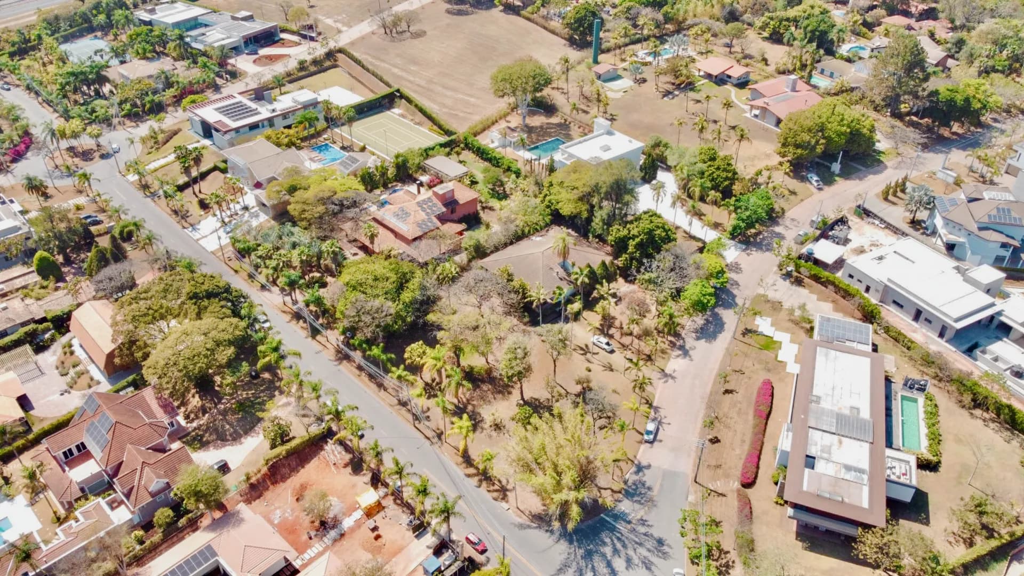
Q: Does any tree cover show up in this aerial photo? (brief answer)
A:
Yes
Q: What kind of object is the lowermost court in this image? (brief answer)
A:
tennis court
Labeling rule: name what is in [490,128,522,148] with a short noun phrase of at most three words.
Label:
gazebo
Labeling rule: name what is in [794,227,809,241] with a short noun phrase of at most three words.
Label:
car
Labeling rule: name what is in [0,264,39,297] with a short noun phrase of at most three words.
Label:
house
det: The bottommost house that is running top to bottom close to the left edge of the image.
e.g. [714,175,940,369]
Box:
[0,371,28,432]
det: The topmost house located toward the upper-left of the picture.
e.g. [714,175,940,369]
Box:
[135,2,281,58]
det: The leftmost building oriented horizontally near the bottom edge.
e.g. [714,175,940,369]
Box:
[128,502,299,576]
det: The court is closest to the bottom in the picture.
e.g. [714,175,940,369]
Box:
[336,111,453,166]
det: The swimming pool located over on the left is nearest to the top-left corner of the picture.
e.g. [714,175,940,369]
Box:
[308,140,350,167]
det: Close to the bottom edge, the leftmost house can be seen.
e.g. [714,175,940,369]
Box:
[0,386,195,576]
